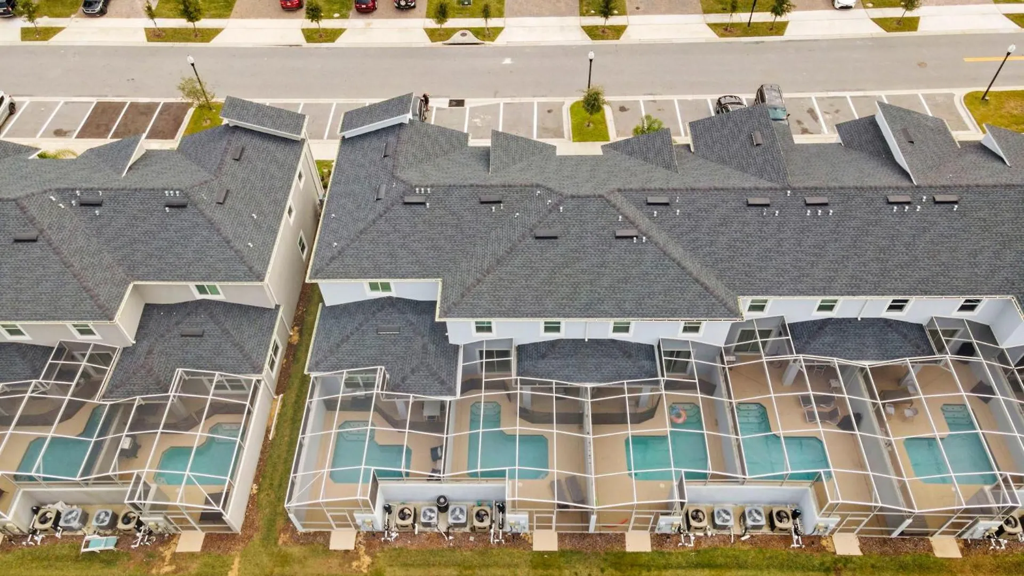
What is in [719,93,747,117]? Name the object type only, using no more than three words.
car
